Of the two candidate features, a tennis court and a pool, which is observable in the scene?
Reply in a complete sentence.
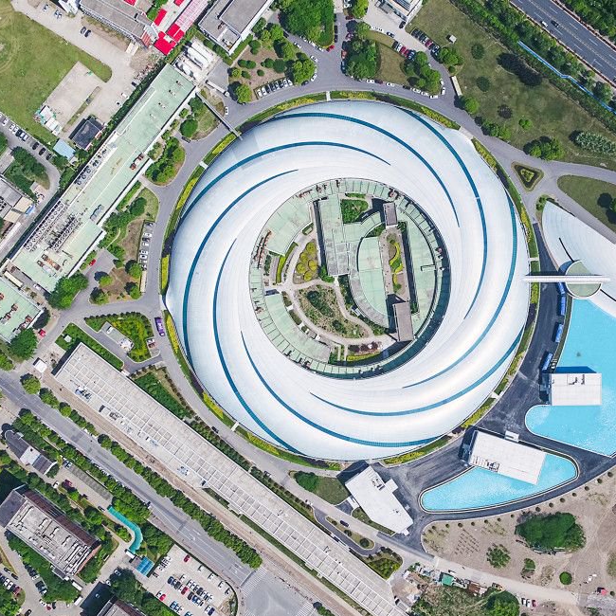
The one in the frame is a pool.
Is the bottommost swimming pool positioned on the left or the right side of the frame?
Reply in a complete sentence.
The bottommost swimming pool appears in the right half of the scene.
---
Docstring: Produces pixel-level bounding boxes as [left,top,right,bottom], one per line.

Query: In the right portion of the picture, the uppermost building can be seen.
[374,0,424,28]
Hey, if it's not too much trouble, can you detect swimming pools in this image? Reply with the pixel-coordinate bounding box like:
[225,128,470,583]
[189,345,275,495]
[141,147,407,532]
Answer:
[418,449,580,514]
[522,296,616,460]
